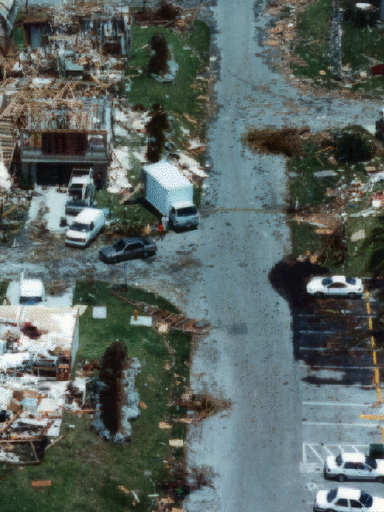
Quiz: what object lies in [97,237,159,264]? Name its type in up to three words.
car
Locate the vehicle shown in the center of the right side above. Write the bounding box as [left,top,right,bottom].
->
[303,275,367,300]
